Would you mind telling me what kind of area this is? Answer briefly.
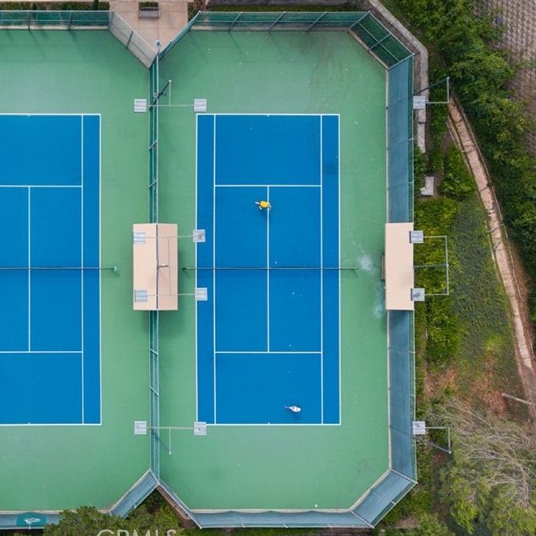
sports ground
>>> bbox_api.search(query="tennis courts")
[0,31,150,509]
[149,31,387,507]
